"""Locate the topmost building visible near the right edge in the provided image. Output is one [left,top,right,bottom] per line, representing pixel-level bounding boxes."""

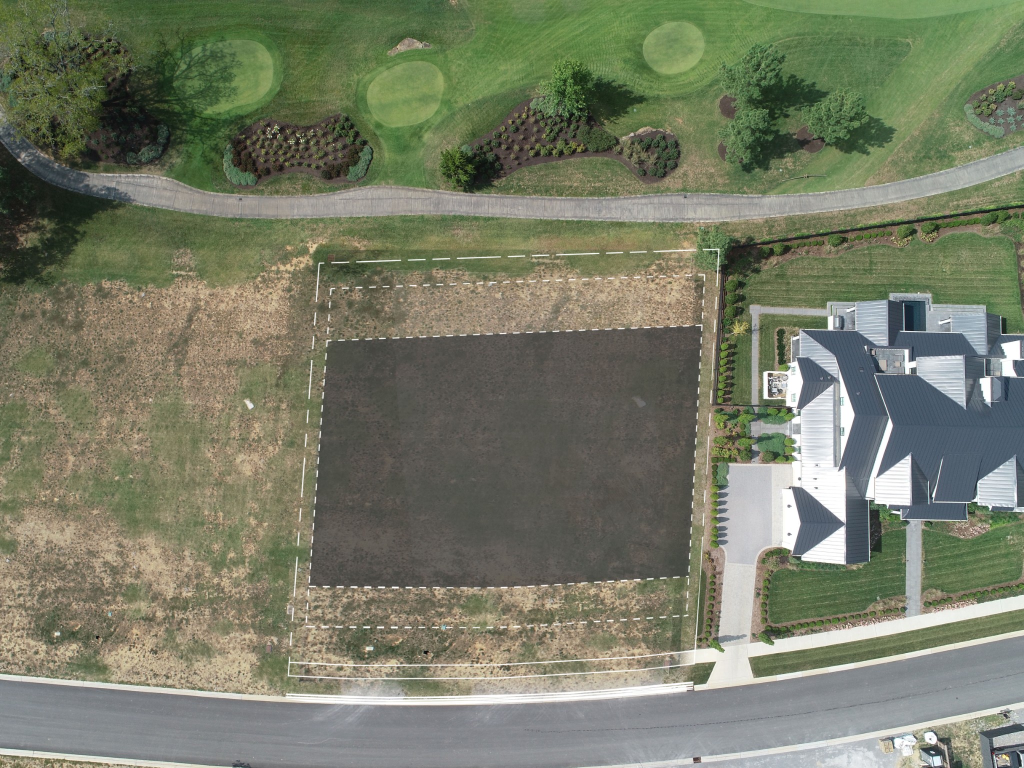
[781,299,1024,566]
